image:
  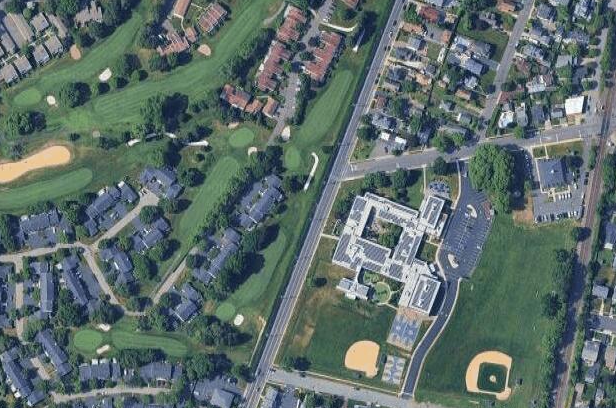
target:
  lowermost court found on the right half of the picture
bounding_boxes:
[382,355,405,385]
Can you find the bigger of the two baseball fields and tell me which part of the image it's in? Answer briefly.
bottom right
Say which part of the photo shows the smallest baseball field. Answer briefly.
bottom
